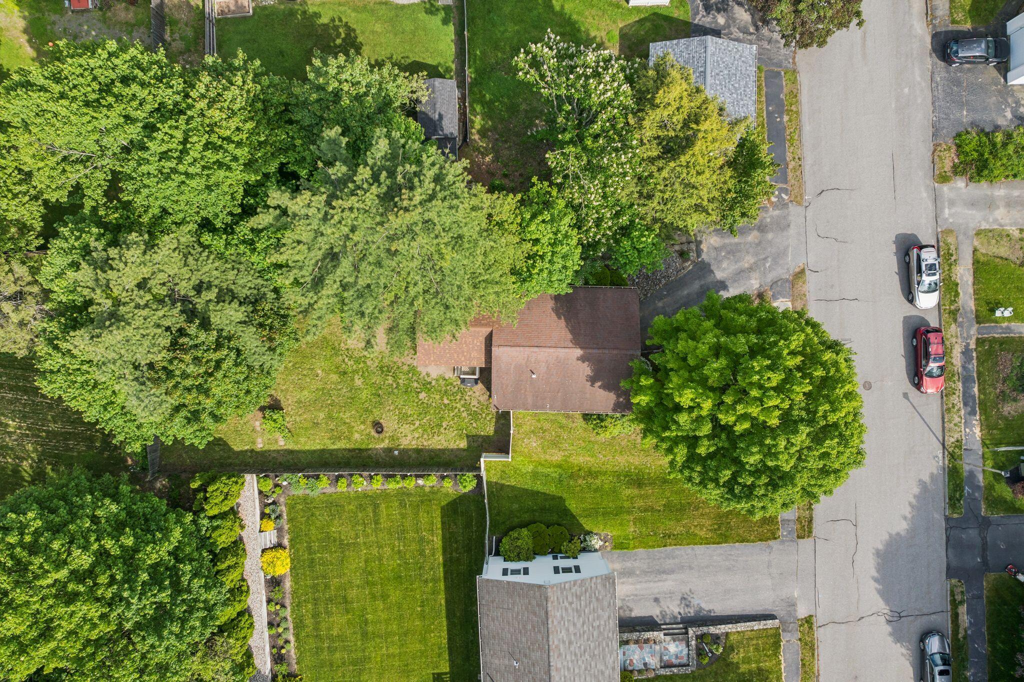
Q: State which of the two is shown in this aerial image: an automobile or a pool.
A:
automobile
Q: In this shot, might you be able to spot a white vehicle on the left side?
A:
No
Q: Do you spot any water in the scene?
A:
No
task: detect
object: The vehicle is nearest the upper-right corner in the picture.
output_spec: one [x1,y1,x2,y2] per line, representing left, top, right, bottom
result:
[942,32,1009,68]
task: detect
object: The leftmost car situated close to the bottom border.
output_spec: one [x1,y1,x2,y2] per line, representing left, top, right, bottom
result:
[919,630,956,682]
